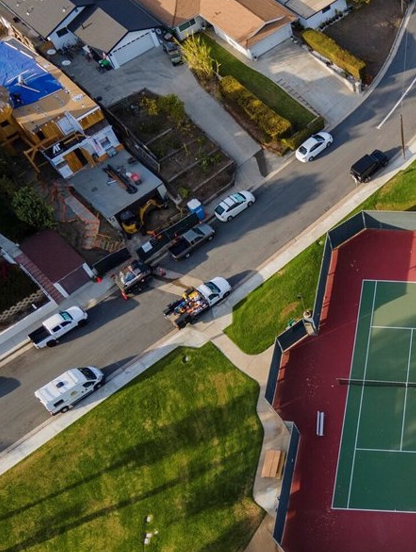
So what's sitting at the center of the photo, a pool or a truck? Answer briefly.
truck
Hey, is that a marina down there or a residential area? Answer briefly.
residential area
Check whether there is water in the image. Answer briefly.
No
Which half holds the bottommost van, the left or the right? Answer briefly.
left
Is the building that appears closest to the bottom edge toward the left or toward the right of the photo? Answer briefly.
left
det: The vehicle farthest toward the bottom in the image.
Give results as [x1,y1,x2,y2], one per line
[33,363,110,417]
